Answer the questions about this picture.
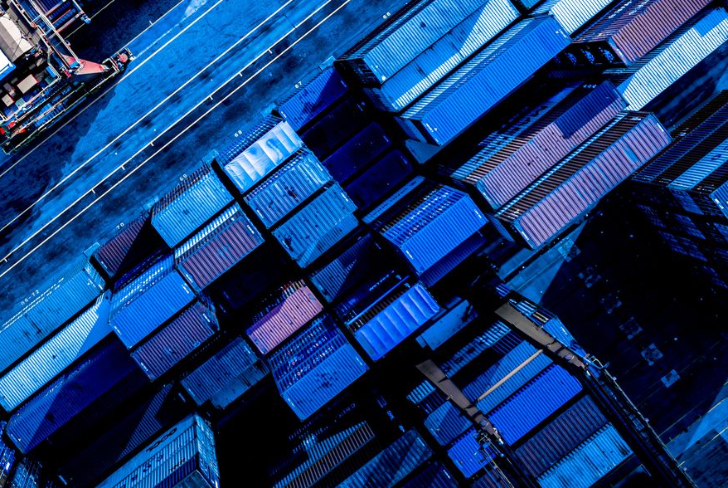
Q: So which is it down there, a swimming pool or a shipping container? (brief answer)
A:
shipping container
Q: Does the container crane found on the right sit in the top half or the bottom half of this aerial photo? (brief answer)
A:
bottom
